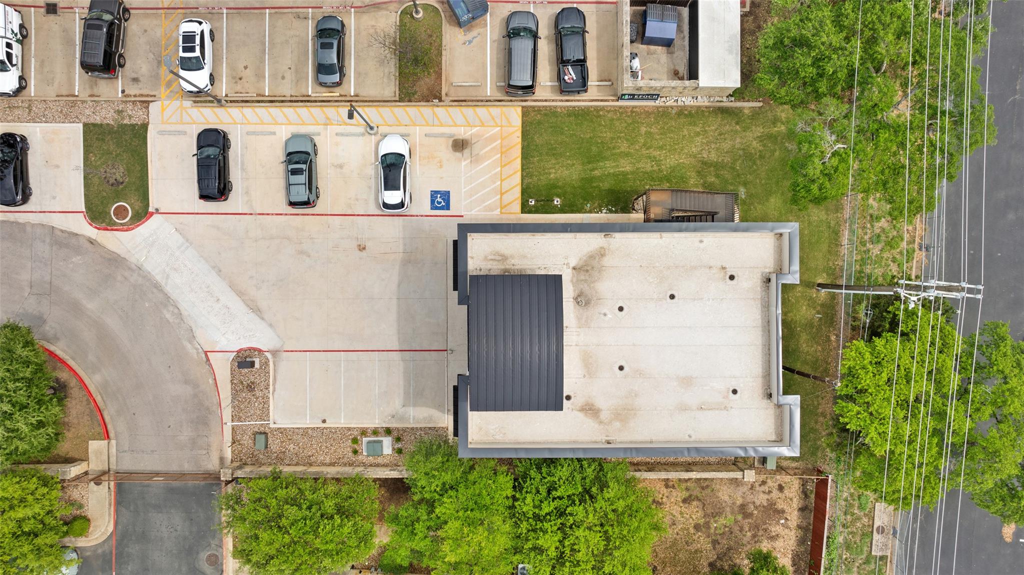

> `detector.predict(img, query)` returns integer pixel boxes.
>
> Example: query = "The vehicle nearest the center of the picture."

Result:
[373,133,413,213]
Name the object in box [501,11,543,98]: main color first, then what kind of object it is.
gray car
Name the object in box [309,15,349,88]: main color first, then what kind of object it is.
gray car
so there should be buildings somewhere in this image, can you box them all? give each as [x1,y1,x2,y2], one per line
[689,0,741,97]
[453,219,800,457]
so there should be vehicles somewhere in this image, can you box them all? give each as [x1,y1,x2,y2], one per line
[279,133,321,210]
[78,0,131,78]
[0,0,31,98]
[190,127,234,203]
[0,131,30,208]
[373,133,413,213]
[174,18,217,96]
[552,5,593,97]
[501,11,543,98]
[309,15,349,88]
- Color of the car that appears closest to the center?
white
